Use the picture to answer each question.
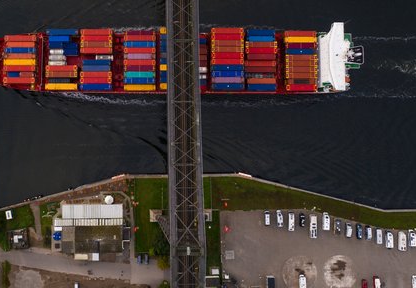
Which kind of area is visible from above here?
port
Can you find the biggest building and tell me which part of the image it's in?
bottom left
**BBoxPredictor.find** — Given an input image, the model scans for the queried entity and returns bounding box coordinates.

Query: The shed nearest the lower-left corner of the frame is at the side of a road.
[7,228,29,248]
